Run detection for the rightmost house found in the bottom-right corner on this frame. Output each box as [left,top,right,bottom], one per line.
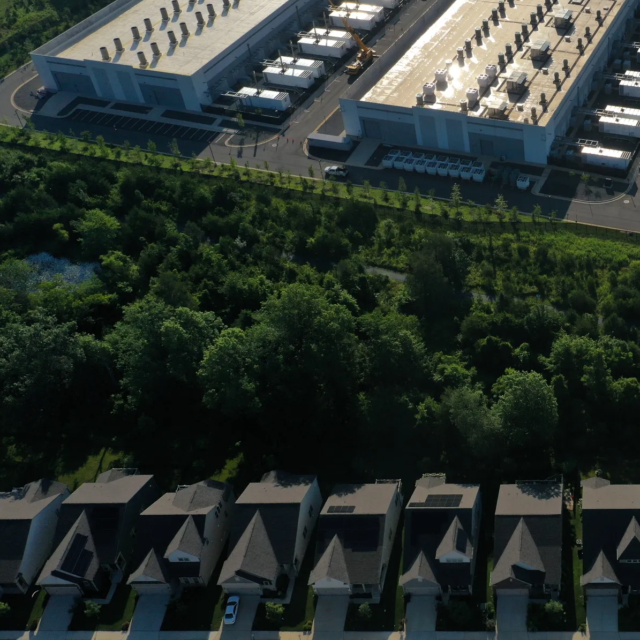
[577,477,640,597]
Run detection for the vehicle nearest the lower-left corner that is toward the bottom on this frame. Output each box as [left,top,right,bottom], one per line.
[221,597,242,624]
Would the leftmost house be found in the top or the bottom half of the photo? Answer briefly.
bottom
